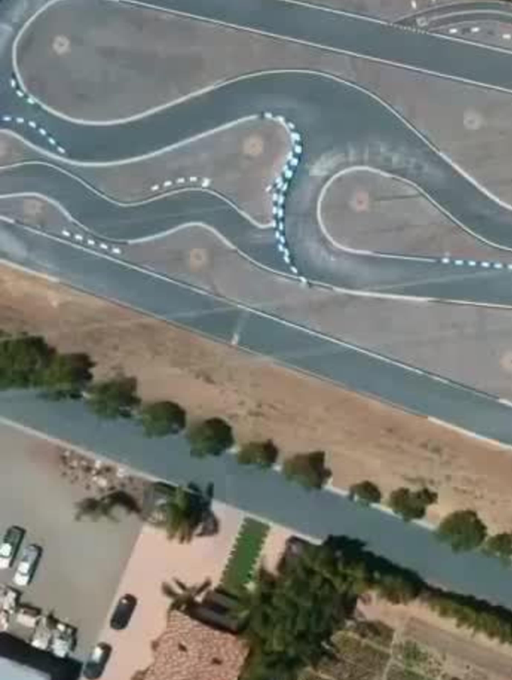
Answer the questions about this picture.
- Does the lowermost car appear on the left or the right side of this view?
left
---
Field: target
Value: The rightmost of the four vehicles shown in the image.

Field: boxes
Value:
[111,593,136,630]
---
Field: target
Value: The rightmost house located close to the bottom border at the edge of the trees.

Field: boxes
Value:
[144,609,251,680]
